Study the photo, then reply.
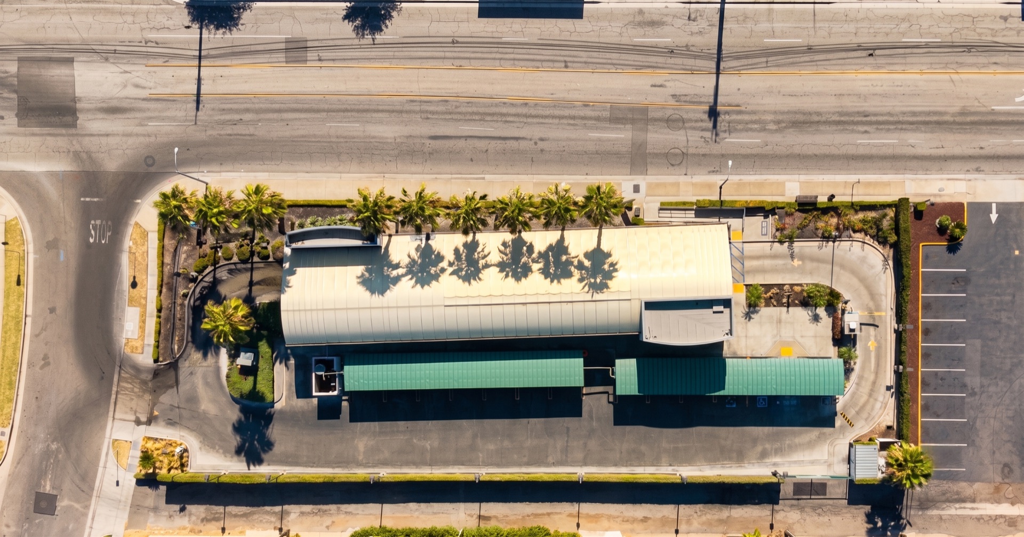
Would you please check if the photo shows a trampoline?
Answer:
No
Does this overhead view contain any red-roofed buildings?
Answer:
No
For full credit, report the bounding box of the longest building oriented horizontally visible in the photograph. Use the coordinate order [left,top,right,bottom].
[281,223,735,347]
